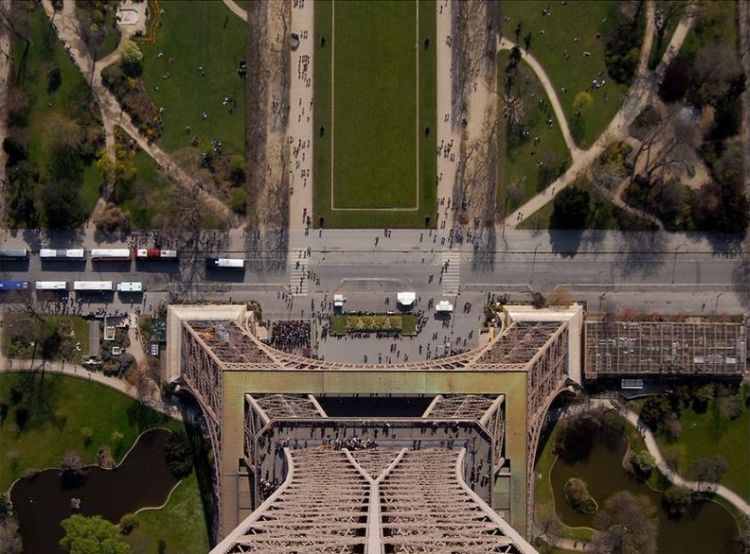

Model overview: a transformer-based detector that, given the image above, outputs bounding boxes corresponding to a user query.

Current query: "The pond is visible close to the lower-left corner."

[9,428,188,554]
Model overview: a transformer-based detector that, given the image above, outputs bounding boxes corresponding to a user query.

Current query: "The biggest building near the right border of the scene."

[582,322,746,380]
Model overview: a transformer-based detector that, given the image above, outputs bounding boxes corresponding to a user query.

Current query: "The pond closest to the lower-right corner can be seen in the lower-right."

[551,418,740,554]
